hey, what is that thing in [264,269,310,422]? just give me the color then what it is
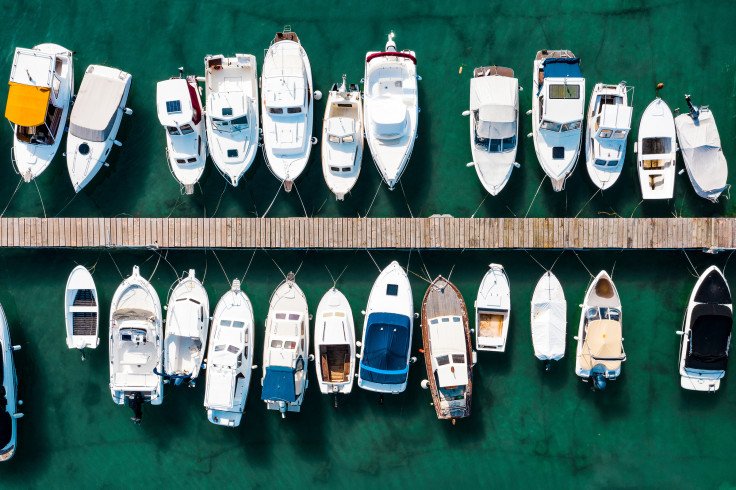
white boat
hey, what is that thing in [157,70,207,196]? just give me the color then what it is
white boat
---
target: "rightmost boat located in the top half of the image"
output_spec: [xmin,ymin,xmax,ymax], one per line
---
[673,91,729,203]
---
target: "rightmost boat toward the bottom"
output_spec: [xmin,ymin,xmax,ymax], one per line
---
[678,266,734,393]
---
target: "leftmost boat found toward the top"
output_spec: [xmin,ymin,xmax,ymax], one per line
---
[6,41,76,185]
